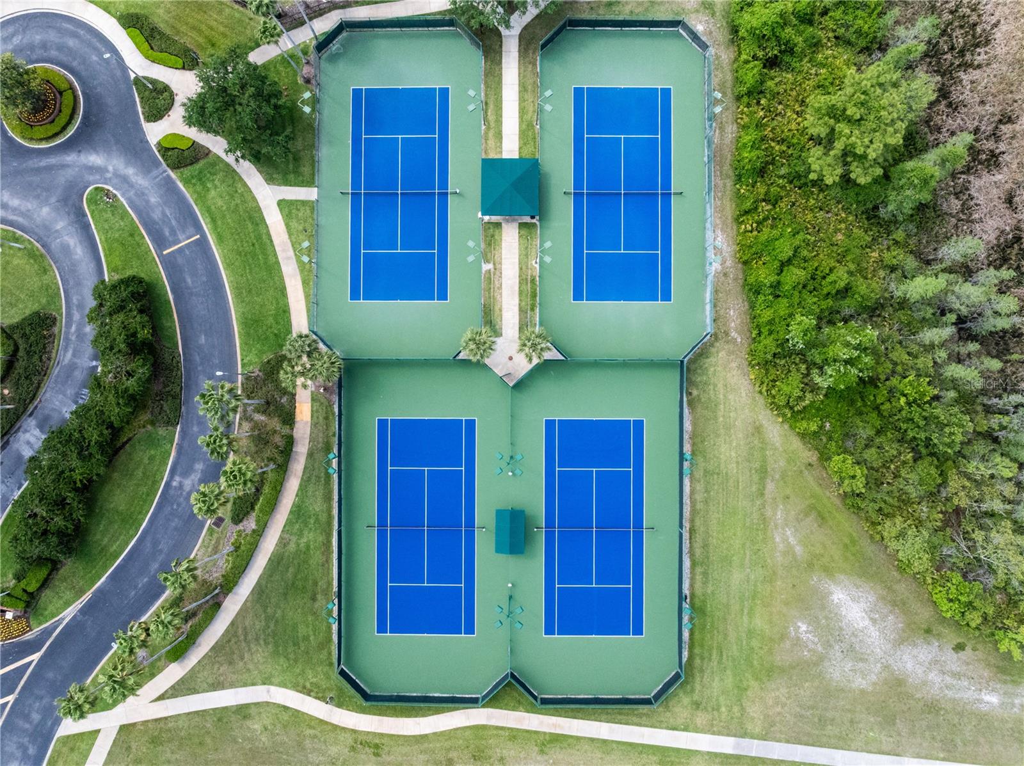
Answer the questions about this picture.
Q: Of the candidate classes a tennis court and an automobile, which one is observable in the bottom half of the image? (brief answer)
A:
tennis court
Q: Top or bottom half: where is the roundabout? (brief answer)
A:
top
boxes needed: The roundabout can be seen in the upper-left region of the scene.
[0,63,82,148]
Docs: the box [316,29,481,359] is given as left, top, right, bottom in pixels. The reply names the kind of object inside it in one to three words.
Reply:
tennis court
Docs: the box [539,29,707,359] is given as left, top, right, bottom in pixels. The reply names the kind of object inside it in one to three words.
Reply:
tennis court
